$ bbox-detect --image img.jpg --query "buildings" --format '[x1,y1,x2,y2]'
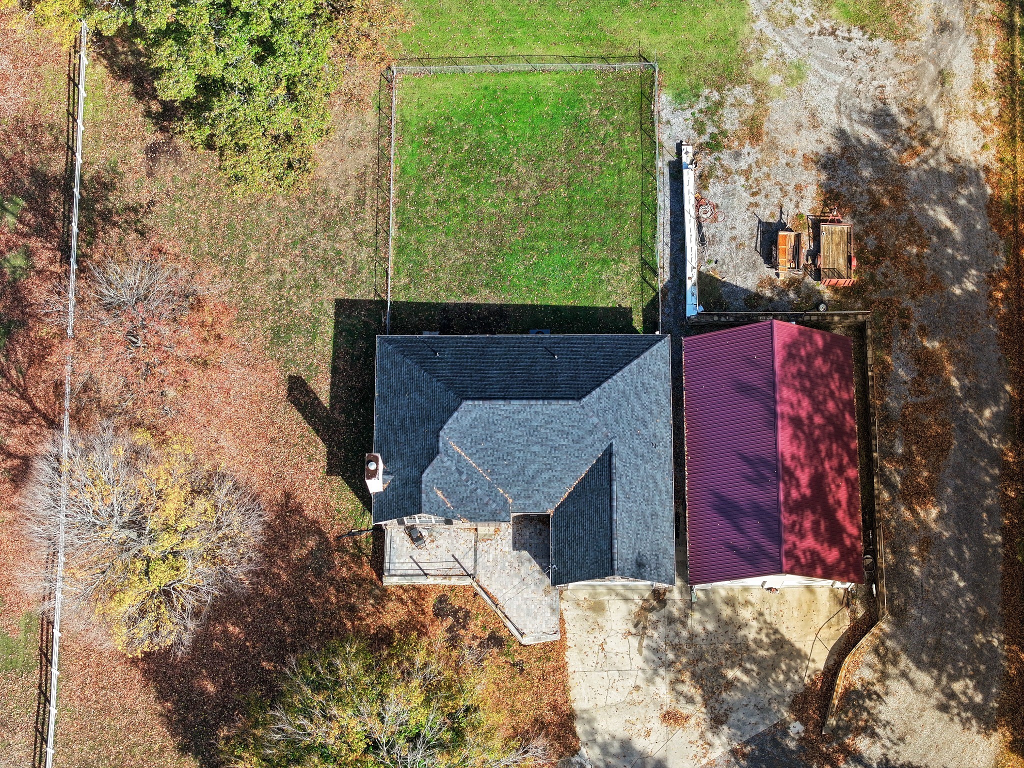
[364,334,677,591]
[681,319,866,587]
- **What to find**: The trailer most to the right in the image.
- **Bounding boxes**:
[816,206,857,281]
